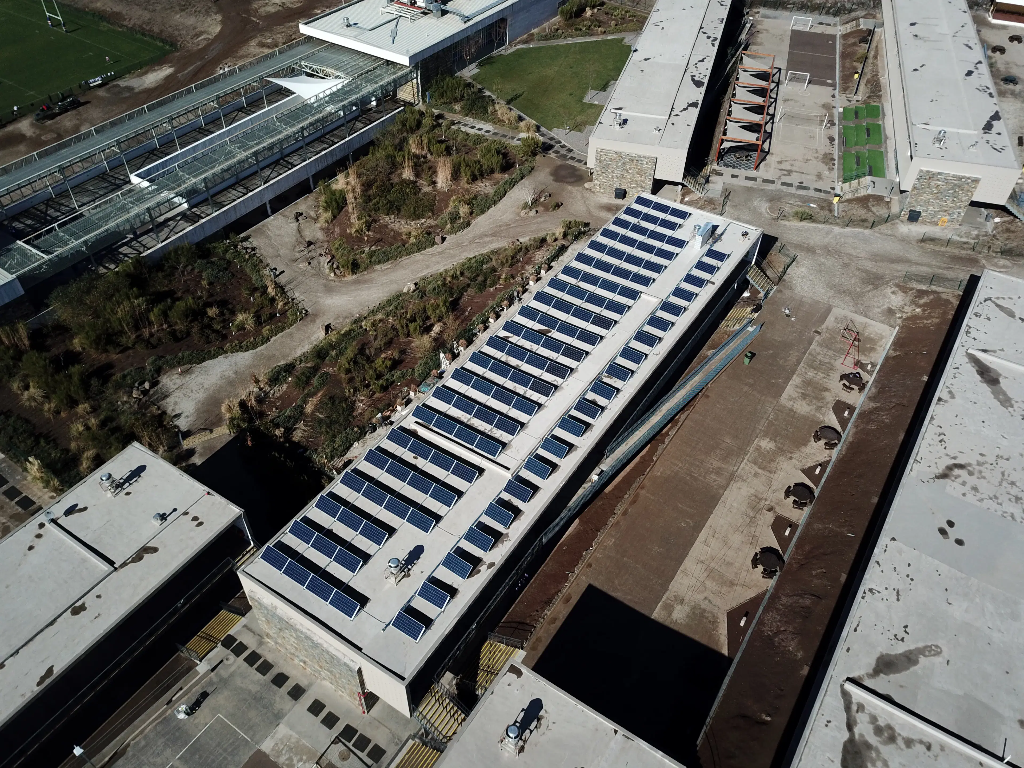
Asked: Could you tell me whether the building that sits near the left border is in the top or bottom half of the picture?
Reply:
bottom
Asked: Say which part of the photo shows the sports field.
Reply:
top left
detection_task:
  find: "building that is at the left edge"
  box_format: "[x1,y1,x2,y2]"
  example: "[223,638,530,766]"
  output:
[0,442,256,768]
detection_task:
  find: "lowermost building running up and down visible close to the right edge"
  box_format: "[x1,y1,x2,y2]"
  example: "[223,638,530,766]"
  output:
[789,269,1024,768]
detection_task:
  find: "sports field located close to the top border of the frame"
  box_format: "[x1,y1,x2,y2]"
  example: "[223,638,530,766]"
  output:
[0,0,173,114]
